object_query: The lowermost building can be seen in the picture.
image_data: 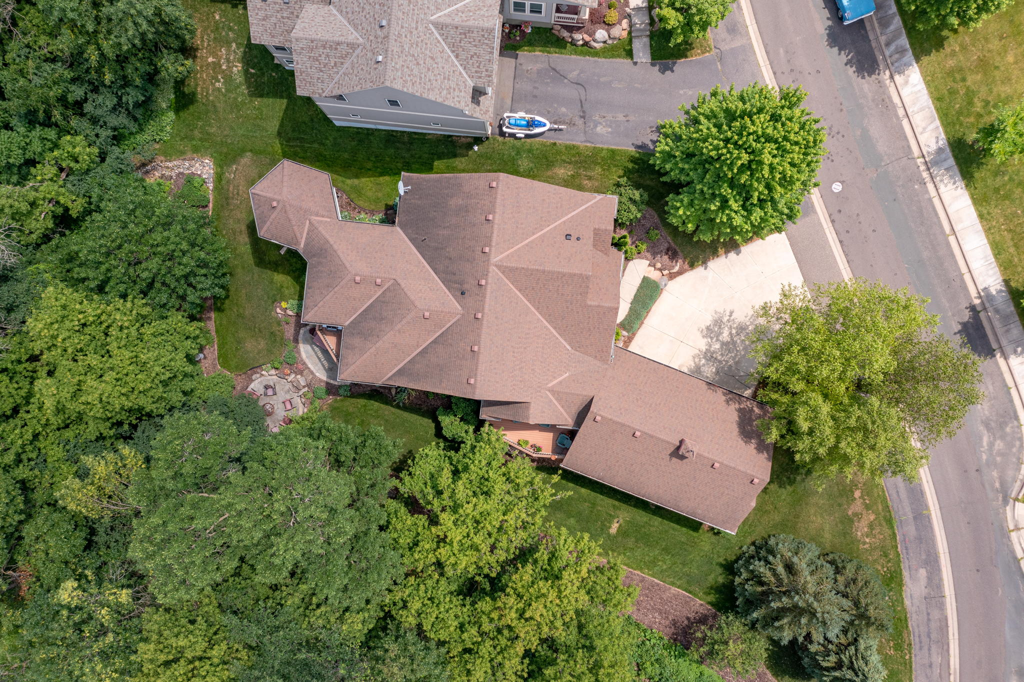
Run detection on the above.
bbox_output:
[247,157,774,536]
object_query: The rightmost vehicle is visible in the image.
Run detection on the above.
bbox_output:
[833,0,876,25]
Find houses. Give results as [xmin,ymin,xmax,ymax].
[247,157,774,536]
[246,0,597,137]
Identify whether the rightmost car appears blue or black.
blue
